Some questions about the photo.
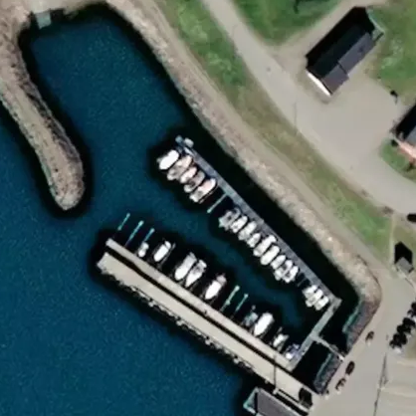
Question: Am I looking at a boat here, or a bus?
boat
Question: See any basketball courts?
No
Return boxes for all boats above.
[177,252,197,280]
[139,241,150,255]
[275,261,292,278]
[165,158,190,182]
[276,330,287,345]
[207,273,226,299]
[270,256,285,272]
[260,246,278,265]
[178,168,196,185]
[190,179,214,203]
[186,259,206,287]
[235,223,256,242]
[312,297,327,311]
[183,172,204,193]
[230,216,247,233]
[282,267,299,284]
[301,285,316,299]
[246,233,261,248]
[157,151,177,172]
[253,235,275,256]
[255,311,275,337]
[246,312,258,325]
[305,290,323,308]
[156,240,171,261]
[217,207,239,230]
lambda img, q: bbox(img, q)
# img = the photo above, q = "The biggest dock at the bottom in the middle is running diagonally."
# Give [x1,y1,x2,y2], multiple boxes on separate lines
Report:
[97,253,319,411]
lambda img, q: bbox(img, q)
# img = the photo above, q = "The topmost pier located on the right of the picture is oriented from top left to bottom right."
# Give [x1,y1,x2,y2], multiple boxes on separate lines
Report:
[176,136,340,302]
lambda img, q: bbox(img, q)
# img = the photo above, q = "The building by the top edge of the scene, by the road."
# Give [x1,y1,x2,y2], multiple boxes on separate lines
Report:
[305,20,378,96]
